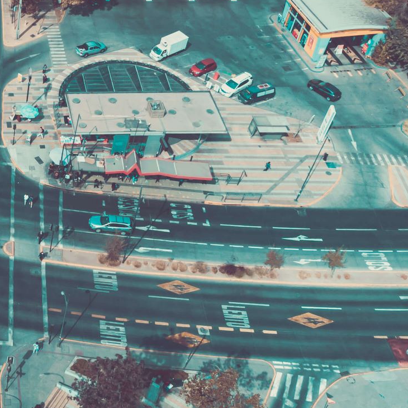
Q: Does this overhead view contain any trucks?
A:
Yes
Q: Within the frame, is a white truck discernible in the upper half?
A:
Yes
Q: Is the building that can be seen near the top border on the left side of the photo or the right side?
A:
right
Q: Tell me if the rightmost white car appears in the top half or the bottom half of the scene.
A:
top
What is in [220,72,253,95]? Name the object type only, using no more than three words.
car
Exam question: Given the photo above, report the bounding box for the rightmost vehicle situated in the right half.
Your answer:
[306,79,343,102]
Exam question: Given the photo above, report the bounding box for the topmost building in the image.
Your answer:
[283,0,392,65]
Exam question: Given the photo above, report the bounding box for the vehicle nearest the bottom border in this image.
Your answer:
[90,212,133,235]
